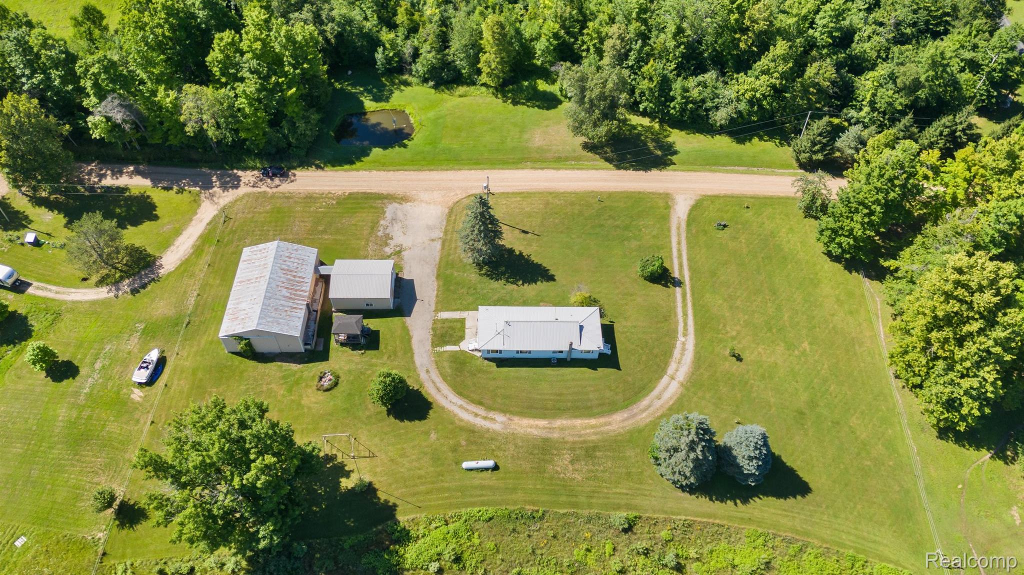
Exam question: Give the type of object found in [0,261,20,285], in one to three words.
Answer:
vehicle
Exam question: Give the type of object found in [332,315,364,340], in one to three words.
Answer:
gazebo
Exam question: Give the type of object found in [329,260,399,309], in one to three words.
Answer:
building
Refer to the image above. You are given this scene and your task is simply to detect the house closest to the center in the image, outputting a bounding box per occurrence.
[472,306,611,362]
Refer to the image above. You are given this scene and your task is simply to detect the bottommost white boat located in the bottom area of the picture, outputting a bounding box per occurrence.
[130,346,159,385]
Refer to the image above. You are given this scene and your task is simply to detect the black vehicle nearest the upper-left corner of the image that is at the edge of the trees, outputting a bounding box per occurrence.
[260,165,285,178]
